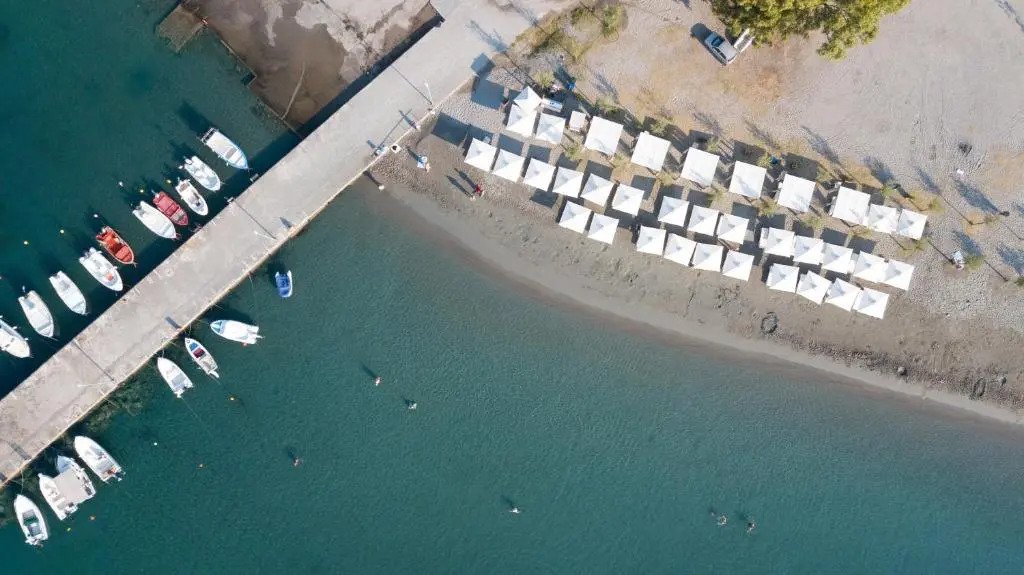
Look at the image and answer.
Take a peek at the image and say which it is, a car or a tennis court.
car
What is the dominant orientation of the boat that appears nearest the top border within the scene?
on a diagonal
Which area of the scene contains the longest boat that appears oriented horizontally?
left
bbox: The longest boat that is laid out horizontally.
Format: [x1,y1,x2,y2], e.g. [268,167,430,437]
[209,319,263,345]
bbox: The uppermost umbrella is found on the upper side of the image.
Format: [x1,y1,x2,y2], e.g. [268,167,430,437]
[512,85,542,111]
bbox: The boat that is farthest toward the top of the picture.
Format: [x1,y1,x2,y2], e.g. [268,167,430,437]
[194,124,248,169]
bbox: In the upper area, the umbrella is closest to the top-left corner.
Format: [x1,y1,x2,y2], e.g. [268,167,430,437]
[464,138,498,172]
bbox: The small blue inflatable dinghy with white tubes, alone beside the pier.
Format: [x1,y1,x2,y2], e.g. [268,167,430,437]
[275,270,293,297]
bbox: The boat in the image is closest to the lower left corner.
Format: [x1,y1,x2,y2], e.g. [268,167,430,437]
[13,497,47,550]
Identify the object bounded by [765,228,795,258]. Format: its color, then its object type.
white umbrella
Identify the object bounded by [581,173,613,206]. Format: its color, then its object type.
white umbrella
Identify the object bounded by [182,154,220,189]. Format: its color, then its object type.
white boat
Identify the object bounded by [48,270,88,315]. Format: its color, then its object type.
white boat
